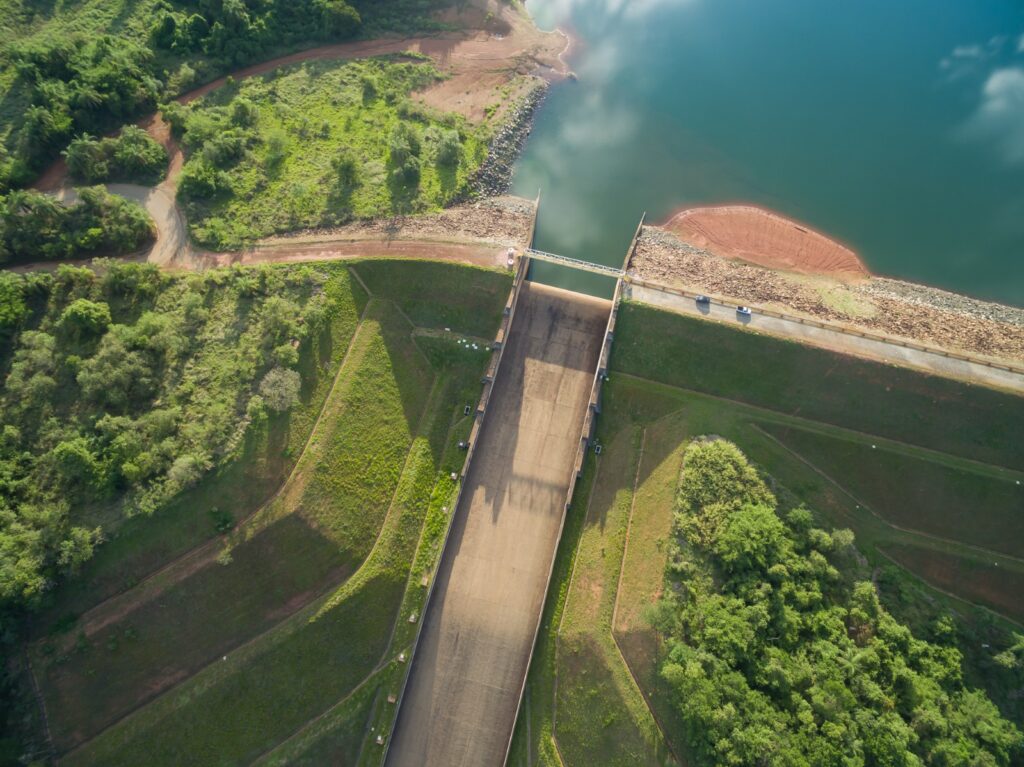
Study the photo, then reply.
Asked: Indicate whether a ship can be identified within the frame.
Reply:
No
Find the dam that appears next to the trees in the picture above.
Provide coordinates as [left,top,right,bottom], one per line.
[265,197,1024,560]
